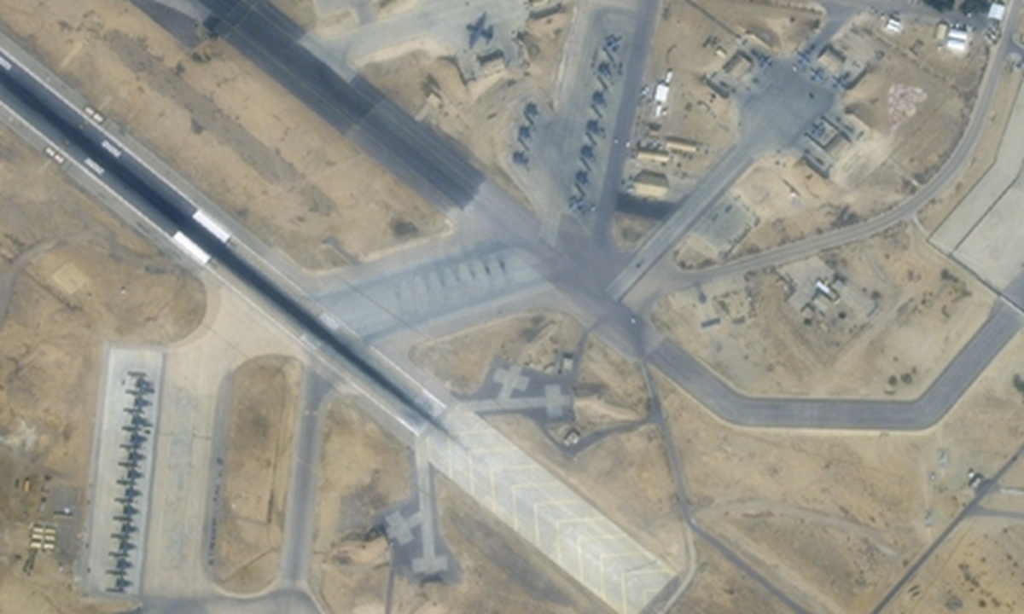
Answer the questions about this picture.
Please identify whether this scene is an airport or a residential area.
airport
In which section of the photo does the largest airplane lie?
top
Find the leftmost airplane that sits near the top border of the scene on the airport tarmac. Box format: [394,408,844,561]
[466,11,493,47]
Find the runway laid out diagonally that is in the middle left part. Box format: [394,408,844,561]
[0,47,445,437]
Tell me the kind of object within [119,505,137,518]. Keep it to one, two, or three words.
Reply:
airplane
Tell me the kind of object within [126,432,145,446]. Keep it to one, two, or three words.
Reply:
airplane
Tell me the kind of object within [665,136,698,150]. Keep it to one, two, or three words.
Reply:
building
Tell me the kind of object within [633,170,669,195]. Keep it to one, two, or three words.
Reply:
hangar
